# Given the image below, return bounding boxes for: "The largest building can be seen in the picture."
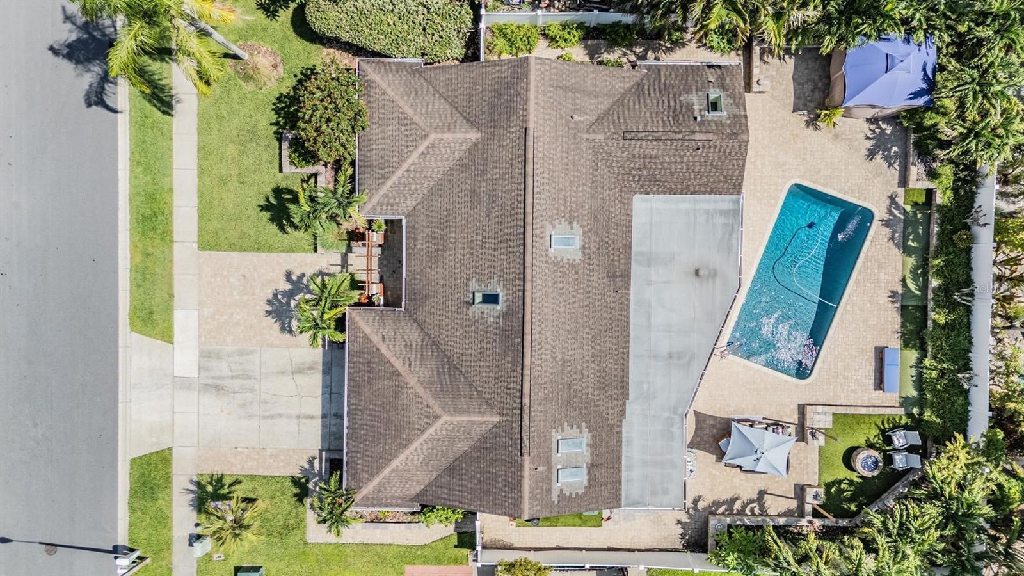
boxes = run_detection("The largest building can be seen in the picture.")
[342,56,750,520]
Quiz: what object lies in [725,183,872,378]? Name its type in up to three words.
swimming pool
